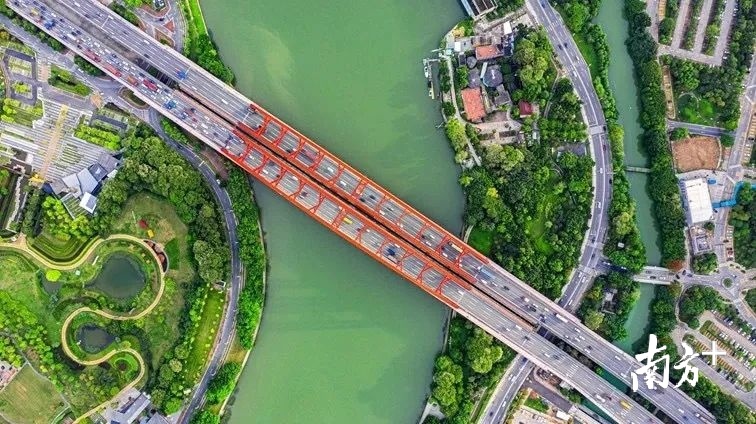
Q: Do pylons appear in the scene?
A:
No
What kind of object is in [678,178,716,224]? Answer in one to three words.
building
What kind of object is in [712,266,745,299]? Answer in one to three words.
roundabout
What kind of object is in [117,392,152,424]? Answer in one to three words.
building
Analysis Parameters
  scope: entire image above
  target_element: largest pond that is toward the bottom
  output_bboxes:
[88,250,145,298]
